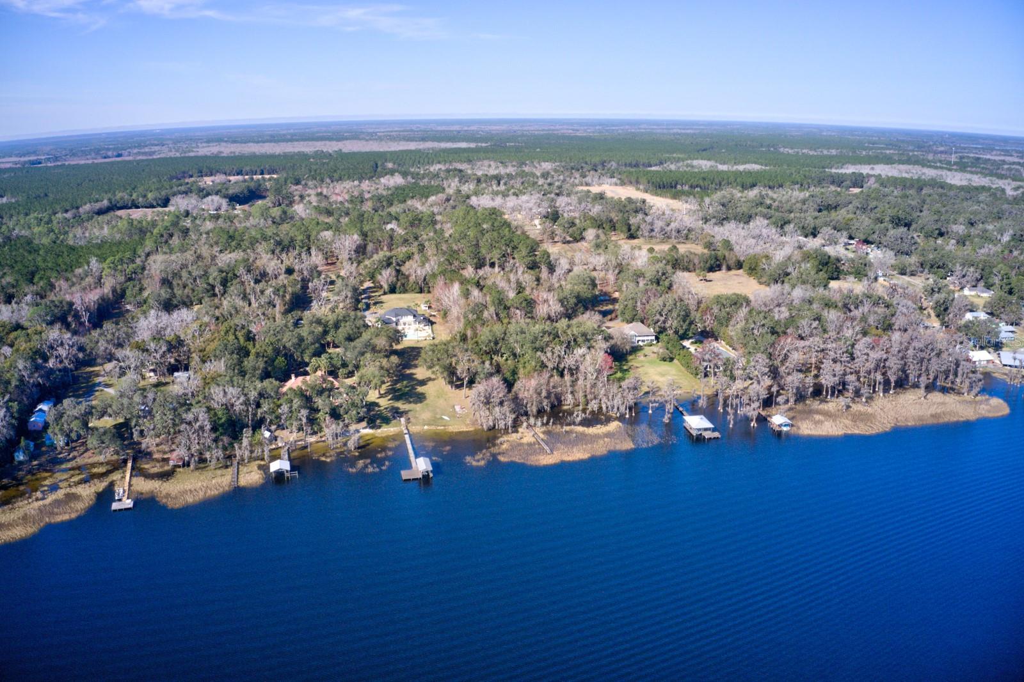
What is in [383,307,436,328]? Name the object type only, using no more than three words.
building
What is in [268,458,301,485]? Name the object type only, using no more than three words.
building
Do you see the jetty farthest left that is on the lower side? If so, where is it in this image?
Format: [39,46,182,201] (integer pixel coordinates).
[106,454,135,513]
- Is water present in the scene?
Yes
